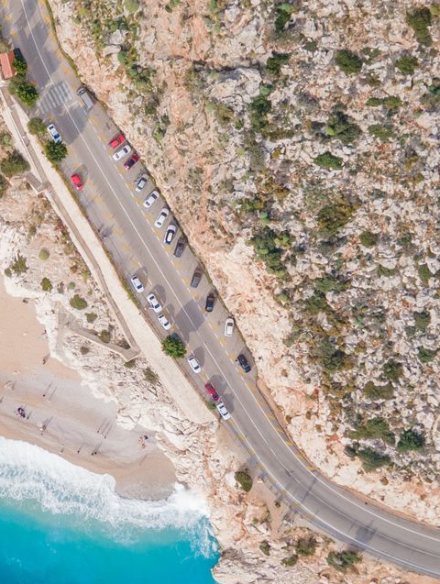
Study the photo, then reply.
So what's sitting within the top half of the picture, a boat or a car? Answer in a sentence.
It is a car that can be seen within the top half of the picture.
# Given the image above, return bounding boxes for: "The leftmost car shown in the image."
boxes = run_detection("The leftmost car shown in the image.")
[47,124,62,143]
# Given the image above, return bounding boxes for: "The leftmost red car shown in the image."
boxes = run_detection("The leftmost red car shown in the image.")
[69,173,83,191]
